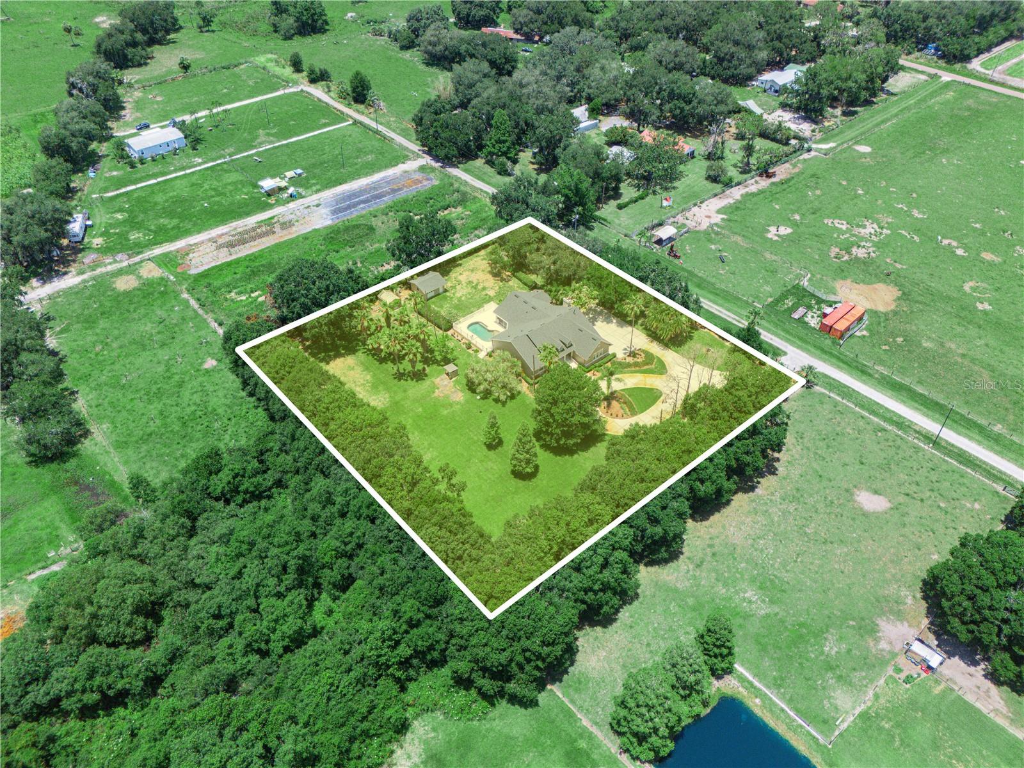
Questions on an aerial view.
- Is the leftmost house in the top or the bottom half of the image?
top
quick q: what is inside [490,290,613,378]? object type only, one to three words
house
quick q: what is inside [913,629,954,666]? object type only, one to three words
shed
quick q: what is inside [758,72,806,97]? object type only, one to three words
house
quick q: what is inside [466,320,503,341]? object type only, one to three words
swimming pool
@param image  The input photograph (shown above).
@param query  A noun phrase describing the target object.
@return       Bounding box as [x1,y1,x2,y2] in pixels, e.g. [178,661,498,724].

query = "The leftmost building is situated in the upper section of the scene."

[125,130,185,159]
